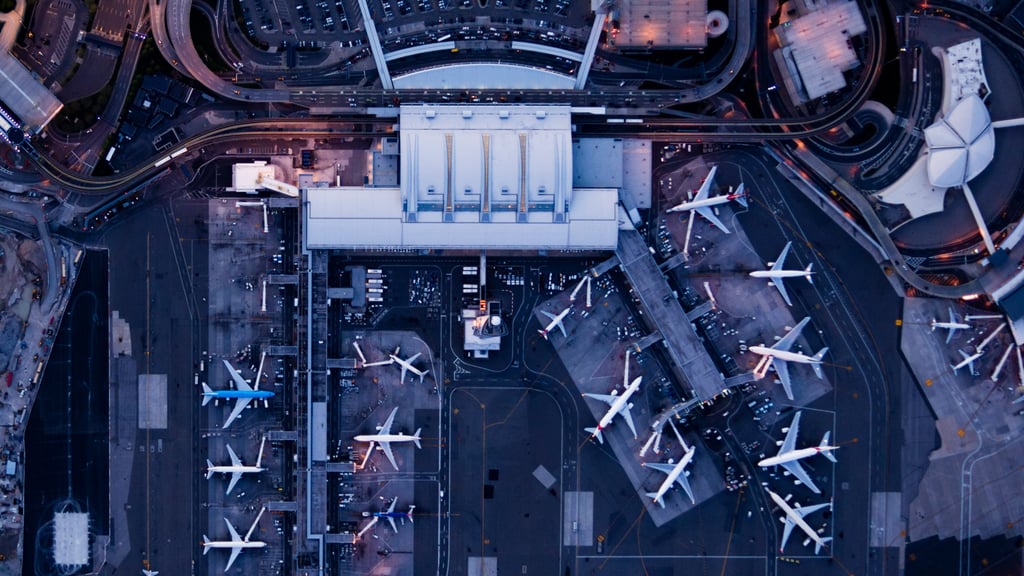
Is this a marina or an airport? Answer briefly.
airport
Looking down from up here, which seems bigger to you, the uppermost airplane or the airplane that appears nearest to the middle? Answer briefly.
the uppermost airplane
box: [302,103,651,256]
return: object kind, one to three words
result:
building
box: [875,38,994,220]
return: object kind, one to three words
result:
building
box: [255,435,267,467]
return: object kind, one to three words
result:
jet bridge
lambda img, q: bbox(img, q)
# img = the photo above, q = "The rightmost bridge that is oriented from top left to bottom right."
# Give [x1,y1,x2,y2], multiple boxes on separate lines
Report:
[798,146,1024,298]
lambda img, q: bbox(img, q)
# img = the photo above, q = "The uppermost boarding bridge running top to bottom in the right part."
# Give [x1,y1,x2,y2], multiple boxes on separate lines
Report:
[684,210,696,251]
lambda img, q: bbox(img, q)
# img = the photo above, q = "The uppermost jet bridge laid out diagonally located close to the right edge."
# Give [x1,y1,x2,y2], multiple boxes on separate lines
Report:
[973,323,1004,352]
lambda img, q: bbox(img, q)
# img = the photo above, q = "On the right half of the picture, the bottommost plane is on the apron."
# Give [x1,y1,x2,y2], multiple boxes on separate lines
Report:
[770,491,835,556]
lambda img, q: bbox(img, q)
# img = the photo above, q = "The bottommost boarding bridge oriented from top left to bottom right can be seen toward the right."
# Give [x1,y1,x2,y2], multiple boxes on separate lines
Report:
[668,417,691,450]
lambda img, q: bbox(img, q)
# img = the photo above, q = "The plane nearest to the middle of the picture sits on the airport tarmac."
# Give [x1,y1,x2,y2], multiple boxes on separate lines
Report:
[537,308,570,340]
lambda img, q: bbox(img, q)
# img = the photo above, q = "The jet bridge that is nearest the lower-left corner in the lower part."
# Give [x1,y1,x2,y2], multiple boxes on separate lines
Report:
[244,506,267,542]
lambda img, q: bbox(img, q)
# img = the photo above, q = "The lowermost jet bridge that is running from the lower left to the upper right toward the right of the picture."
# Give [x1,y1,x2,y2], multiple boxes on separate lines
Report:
[639,432,657,457]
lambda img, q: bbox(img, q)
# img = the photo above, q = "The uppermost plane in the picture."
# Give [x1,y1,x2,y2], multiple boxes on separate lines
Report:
[672,164,747,234]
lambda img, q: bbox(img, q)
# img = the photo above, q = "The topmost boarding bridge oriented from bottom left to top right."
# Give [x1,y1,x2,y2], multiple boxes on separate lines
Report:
[569,274,590,302]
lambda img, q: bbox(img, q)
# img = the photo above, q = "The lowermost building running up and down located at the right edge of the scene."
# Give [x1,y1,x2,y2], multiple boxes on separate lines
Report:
[986,265,1024,352]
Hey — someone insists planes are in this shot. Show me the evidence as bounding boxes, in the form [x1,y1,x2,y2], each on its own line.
[205,444,264,495]
[373,496,413,534]
[354,406,421,471]
[952,346,983,377]
[672,164,747,234]
[749,240,816,306]
[933,307,969,343]
[582,376,642,443]
[537,308,570,340]
[770,491,835,556]
[749,315,826,402]
[390,354,428,386]
[640,447,695,507]
[1013,390,1024,402]
[200,360,274,430]
[200,518,267,573]
[758,411,844,497]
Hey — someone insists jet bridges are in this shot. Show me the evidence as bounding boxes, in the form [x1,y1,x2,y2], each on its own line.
[360,441,375,470]
[362,358,394,368]
[668,417,691,450]
[254,350,267,391]
[654,432,662,454]
[973,323,1004,352]
[255,435,267,467]
[684,210,696,251]
[639,432,657,457]
[569,274,590,302]
[964,315,1000,320]
[586,278,591,307]
[704,281,716,302]
[759,356,773,378]
[237,202,268,207]
[357,516,379,539]
[262,205,270,232]
[1014,348,1024,390]
[244,506,267,542]
[757,355,769,376]
[352,340,367,364]
[989,343,1014,381]
[623,347,630,389]
[261,280,268,312]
